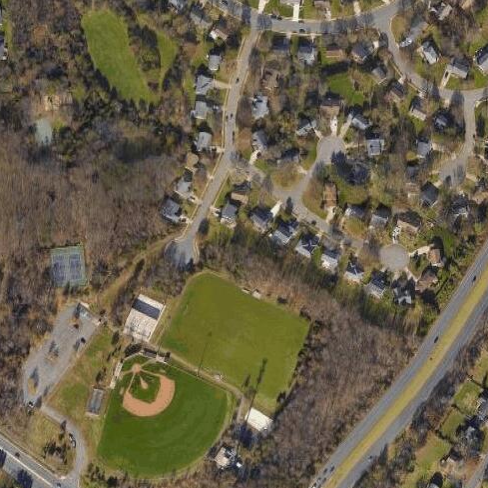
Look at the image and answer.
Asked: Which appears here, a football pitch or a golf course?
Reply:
football pitch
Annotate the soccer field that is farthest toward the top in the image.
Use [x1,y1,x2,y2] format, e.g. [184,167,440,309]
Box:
[162,269,310,413]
